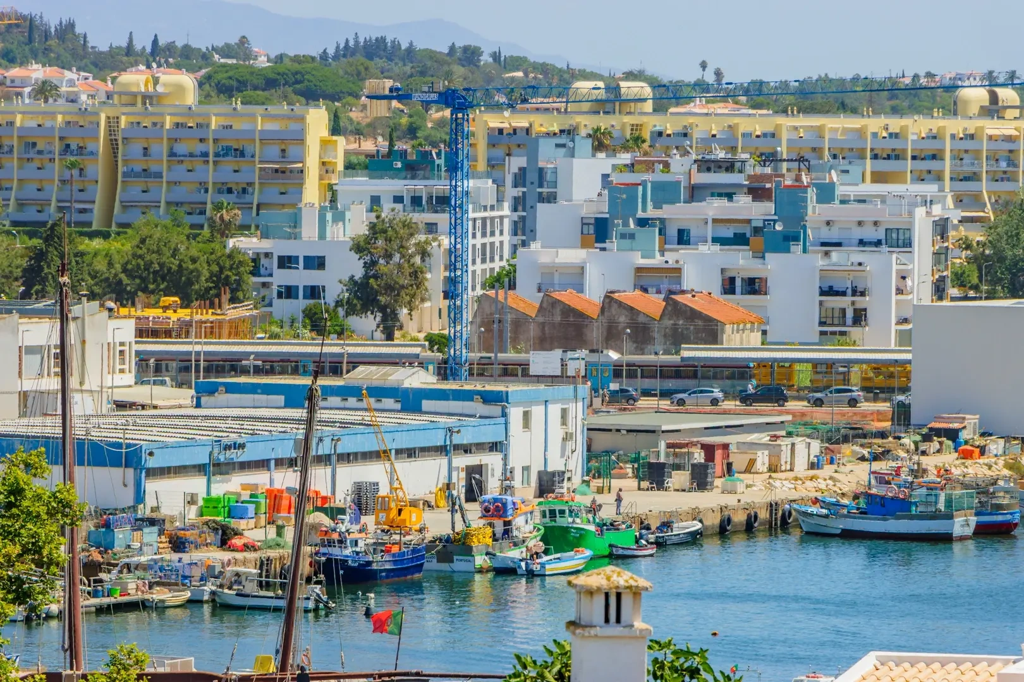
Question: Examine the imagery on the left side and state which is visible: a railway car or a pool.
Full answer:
The one visible on the left side is a railway car.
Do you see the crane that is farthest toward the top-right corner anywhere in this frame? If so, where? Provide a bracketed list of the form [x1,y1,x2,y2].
[363,71,1024,382]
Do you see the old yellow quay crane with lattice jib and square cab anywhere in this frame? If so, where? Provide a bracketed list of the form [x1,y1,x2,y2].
[360,387,434,534]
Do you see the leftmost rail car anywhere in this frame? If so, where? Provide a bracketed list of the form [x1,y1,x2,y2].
[134,345,297,385]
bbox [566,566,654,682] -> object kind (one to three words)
chimney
